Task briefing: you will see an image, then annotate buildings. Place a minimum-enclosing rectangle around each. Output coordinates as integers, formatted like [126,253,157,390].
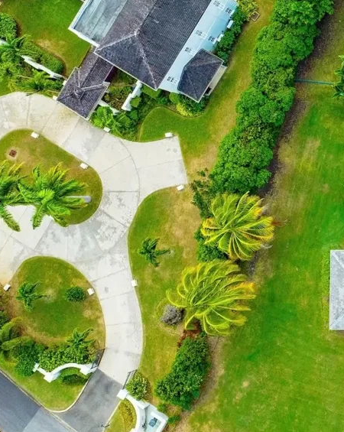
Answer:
[328,249,344,330]
[42,0,239,103]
